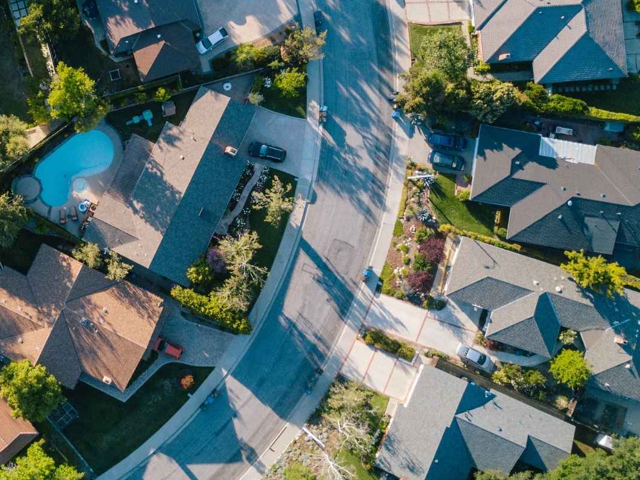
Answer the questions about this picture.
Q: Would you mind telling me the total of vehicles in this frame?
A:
6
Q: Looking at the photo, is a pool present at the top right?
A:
No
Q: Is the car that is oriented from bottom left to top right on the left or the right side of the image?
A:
left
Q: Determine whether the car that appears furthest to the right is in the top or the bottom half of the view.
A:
bottom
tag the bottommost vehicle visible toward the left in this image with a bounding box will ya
[153,337,187,359]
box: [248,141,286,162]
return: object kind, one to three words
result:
car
